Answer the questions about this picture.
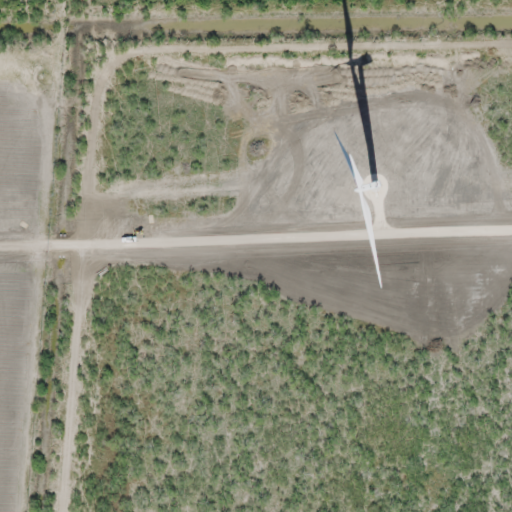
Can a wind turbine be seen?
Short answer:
Yes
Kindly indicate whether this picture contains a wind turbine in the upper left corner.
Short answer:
No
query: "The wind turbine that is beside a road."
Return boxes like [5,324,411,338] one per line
[335,134,382,286]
